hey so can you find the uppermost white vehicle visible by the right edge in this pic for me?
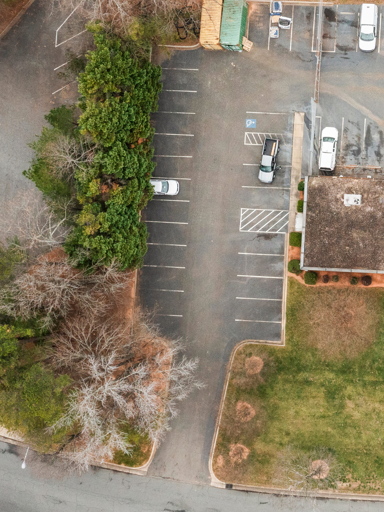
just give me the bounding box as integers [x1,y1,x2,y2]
[357,2,378,53]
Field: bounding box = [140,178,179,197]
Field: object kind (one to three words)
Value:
car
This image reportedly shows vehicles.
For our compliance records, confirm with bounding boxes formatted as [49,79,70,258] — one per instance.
[257,138,283,183]
[357,2,378,53]
[318,127,338,173]
[140,178,179,197]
